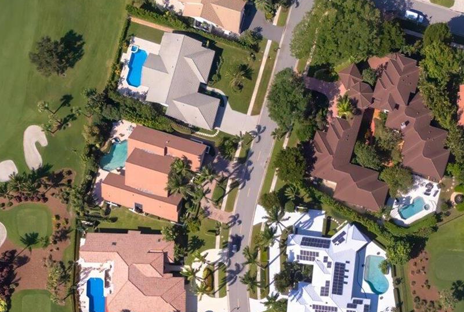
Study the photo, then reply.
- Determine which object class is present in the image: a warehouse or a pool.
pool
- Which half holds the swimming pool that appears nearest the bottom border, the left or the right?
left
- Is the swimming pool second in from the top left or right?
left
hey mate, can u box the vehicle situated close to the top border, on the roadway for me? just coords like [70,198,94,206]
[405,8,423,21]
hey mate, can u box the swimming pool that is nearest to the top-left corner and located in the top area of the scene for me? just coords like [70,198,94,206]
[125,44,150,88]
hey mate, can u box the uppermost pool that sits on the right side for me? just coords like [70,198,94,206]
[397,195,432,220]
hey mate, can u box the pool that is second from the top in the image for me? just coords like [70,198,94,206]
[100,137,129,172]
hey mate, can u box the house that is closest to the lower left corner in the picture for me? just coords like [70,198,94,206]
[75,233,187,312]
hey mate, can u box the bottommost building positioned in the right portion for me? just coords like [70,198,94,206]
[287,224,370,312]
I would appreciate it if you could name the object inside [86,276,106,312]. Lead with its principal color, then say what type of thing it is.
blue swimming pool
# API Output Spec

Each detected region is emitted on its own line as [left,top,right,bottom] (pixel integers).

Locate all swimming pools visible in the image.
[363,254,390,296]
[397,195,432,220]
[125,44,150,88]
[86,276,106,312]
[100,137,129,172]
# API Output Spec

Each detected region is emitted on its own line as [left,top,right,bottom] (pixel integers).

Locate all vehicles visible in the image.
[405,8,423,21]
[231,237,239,253]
